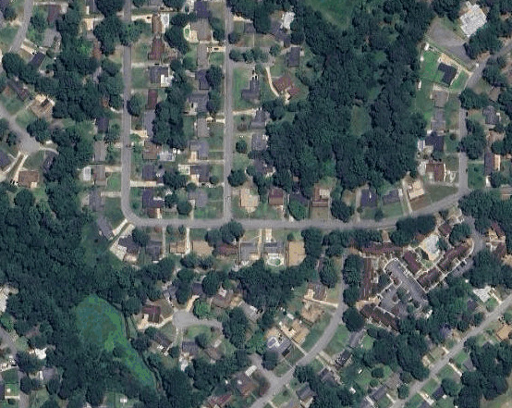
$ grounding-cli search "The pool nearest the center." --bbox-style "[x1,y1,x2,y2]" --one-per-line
[267,254,284,267]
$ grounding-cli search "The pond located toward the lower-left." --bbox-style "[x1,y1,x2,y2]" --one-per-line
[77,295,155,388]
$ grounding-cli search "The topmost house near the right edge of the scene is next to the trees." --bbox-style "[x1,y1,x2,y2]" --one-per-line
[459,5,490,34]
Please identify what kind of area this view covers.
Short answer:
residential area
